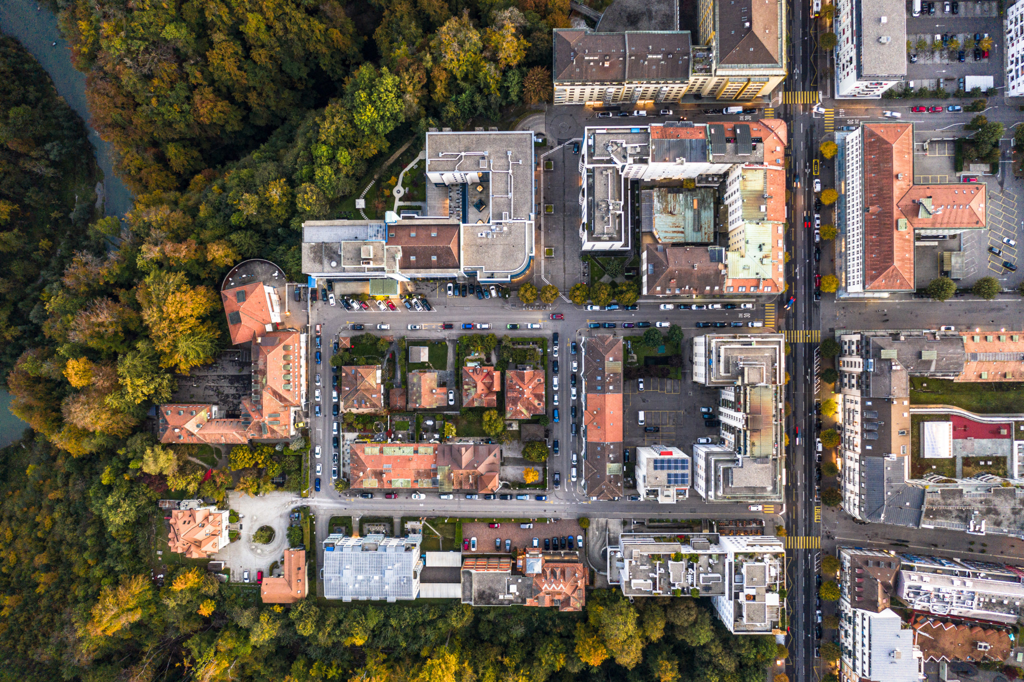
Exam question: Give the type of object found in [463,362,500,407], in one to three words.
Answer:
house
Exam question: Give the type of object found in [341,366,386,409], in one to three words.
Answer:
house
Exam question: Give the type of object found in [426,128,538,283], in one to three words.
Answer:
building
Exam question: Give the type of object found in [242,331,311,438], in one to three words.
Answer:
building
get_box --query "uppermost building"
[595,0,675,32]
